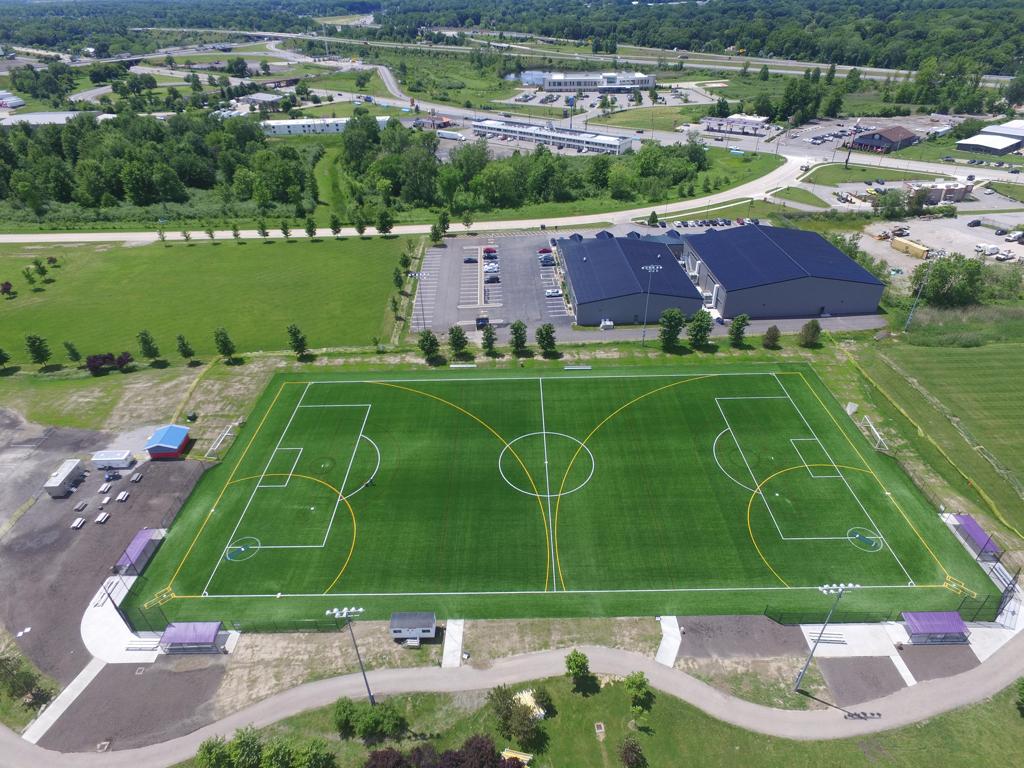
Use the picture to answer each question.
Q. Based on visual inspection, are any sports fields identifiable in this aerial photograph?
Yes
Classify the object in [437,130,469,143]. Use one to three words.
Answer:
vehicle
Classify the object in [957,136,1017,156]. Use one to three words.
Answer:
shed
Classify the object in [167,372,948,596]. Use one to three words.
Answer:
sports field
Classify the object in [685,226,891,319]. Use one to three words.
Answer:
building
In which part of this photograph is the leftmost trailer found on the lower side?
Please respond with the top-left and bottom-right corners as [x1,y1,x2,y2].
[44,459,90,498]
